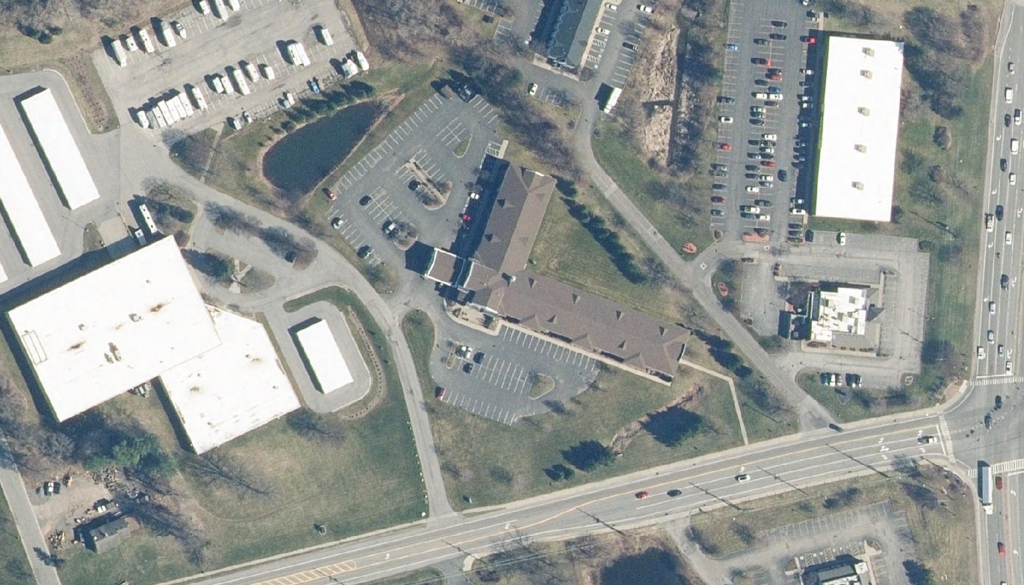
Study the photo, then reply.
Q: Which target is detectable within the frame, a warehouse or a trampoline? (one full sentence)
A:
There is a warehouse in the scene.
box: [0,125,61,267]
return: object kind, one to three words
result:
building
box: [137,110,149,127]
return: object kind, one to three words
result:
vehicle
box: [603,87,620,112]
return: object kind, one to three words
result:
vehicle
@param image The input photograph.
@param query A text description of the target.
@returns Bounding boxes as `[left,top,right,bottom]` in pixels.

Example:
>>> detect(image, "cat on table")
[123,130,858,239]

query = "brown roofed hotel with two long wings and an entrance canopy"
[425,163,691,377]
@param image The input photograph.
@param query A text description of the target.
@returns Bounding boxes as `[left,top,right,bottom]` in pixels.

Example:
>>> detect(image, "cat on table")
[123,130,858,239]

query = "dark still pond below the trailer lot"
[263,99,387,195]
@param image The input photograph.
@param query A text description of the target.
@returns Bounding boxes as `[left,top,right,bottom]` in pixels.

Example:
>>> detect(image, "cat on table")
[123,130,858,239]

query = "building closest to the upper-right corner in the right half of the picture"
[815,36,904,222]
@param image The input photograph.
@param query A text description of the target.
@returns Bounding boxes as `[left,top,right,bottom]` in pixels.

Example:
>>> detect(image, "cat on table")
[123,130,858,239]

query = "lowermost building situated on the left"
[89,518,135,554]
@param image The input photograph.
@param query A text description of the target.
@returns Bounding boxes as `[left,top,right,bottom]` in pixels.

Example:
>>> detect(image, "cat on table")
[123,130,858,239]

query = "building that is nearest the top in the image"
[544,0,603,73]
